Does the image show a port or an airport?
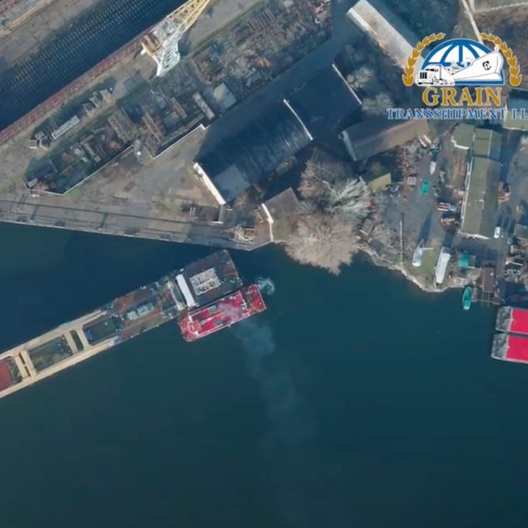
port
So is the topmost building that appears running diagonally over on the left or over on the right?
right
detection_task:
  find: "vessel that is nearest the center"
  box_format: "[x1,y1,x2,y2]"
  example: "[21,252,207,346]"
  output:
[181,284,267,340]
